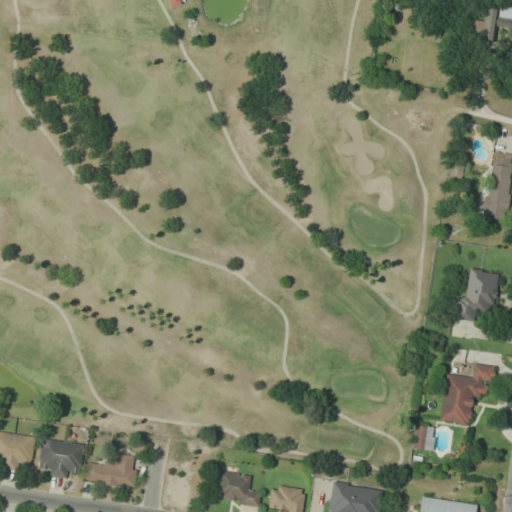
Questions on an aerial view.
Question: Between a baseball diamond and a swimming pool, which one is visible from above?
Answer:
swimming pool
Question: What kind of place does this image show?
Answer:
golf course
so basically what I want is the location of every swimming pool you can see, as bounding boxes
[436,426,454,458]
[472,134,492,166]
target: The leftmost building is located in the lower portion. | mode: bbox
[0,432,36,471]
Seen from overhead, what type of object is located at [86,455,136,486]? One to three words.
house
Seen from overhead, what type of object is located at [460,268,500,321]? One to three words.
house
